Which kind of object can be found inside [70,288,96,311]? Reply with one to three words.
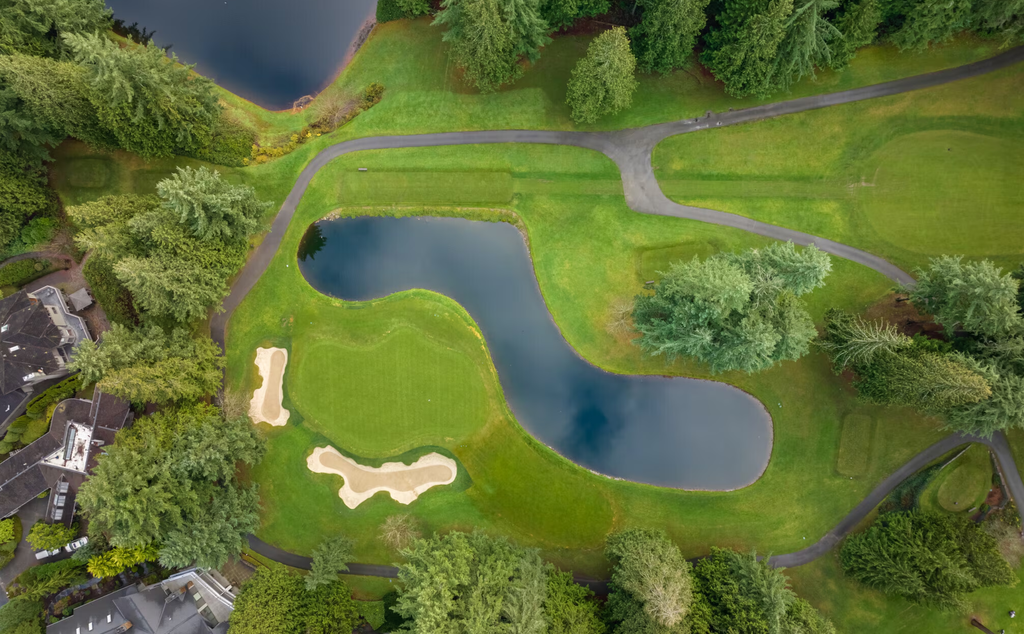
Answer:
gazebo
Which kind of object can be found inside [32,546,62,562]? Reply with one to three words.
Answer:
vehicle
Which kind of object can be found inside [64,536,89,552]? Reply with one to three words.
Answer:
car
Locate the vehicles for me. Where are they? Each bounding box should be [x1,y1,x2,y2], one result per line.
[32,546,62,562]
[64,536,89,552]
